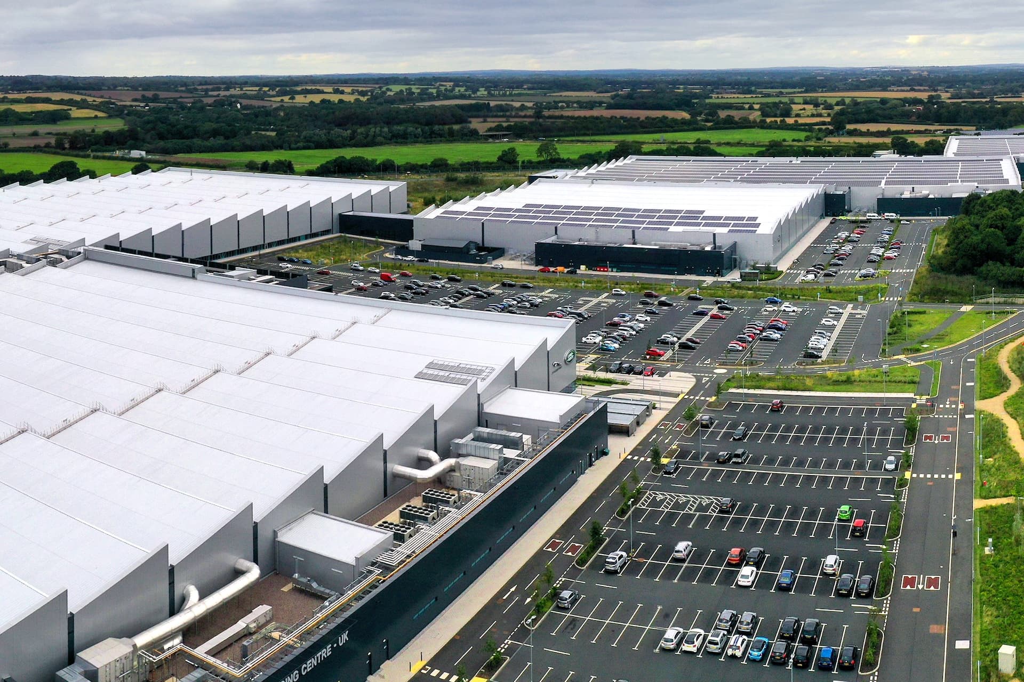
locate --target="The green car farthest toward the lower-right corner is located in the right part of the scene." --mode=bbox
[836,506,853,522]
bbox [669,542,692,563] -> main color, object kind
gray car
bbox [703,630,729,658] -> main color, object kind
gray car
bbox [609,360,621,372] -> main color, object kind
gray vehicle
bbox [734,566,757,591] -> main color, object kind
white car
